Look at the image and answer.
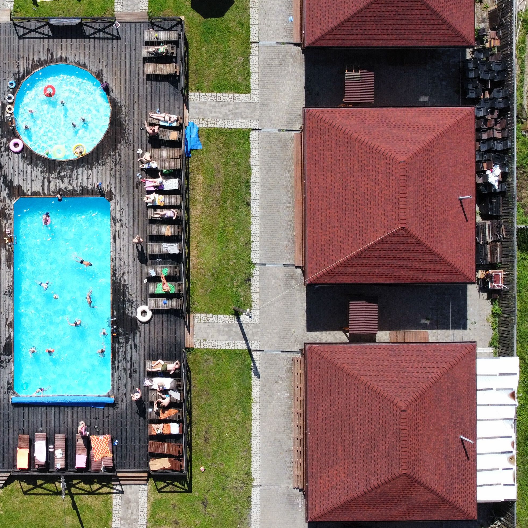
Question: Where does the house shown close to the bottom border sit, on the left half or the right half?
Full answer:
The house shown close to the bottom border appears in the right half of the scene.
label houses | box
[299,106,478,286]
[301,341,479,523]
[299,0,477,49]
